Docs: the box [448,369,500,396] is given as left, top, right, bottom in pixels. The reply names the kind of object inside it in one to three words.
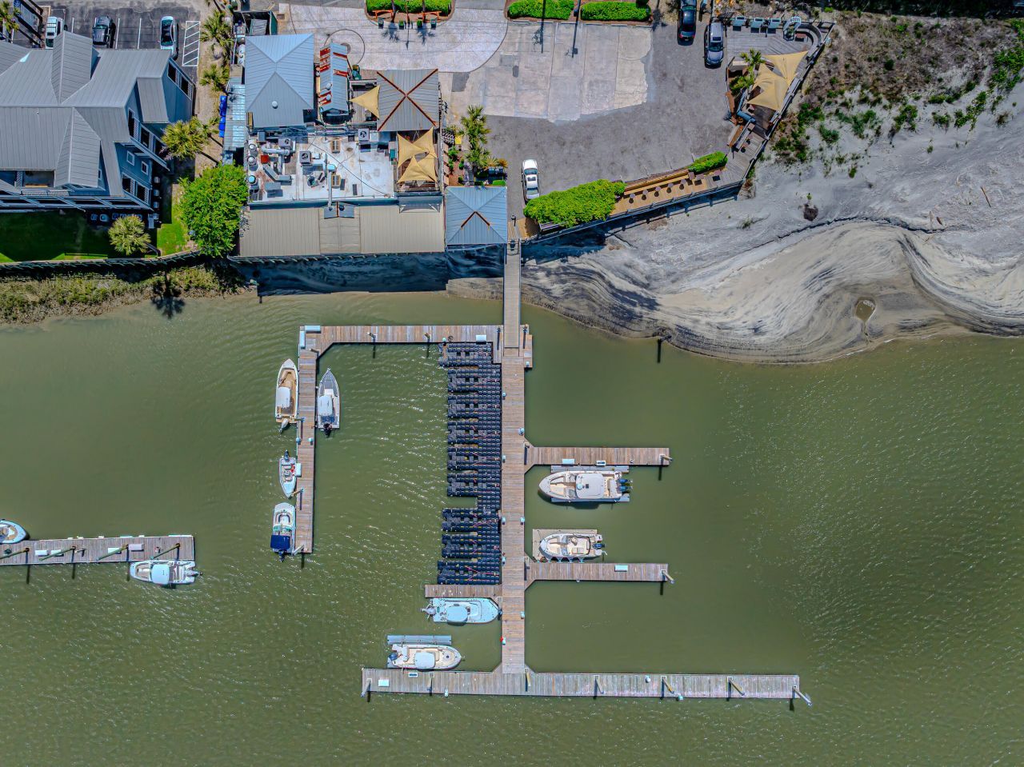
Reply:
pier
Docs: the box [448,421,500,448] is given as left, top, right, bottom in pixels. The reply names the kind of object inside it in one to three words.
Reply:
pier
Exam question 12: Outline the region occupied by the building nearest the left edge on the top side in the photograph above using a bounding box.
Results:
[0,32,193,219]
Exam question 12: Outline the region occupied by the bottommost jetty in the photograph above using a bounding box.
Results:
[362,667,800,699]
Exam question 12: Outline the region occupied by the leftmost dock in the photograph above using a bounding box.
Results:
[0,536,195,566]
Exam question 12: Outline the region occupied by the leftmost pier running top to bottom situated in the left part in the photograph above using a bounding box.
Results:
[294,345,319,553]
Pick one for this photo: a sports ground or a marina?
marina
